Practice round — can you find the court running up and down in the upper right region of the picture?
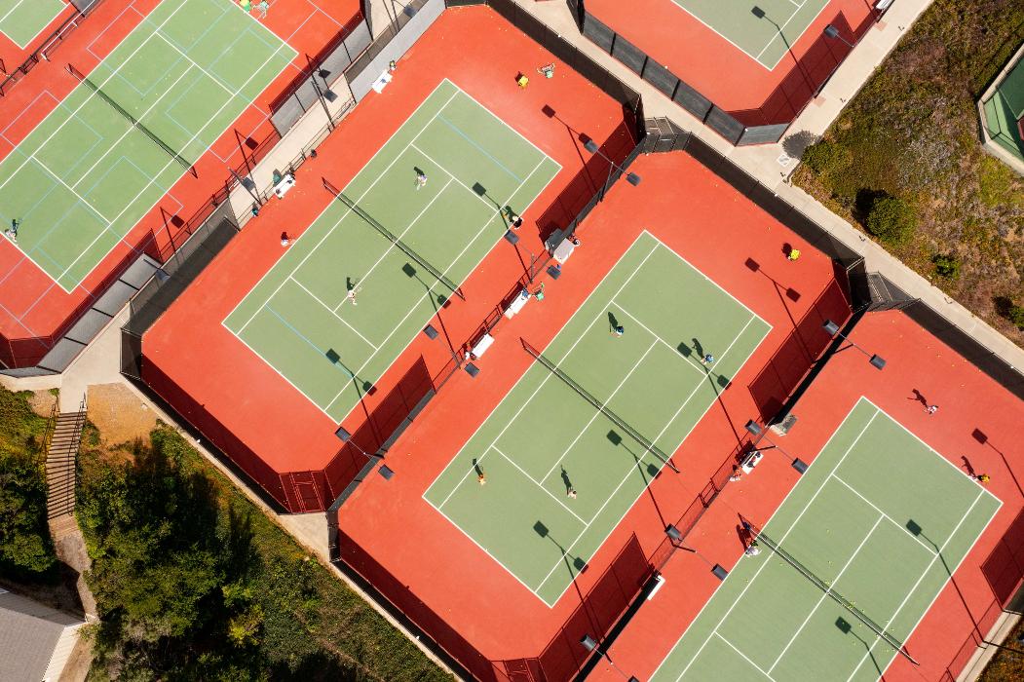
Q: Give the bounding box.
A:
[980,44,1024,172]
